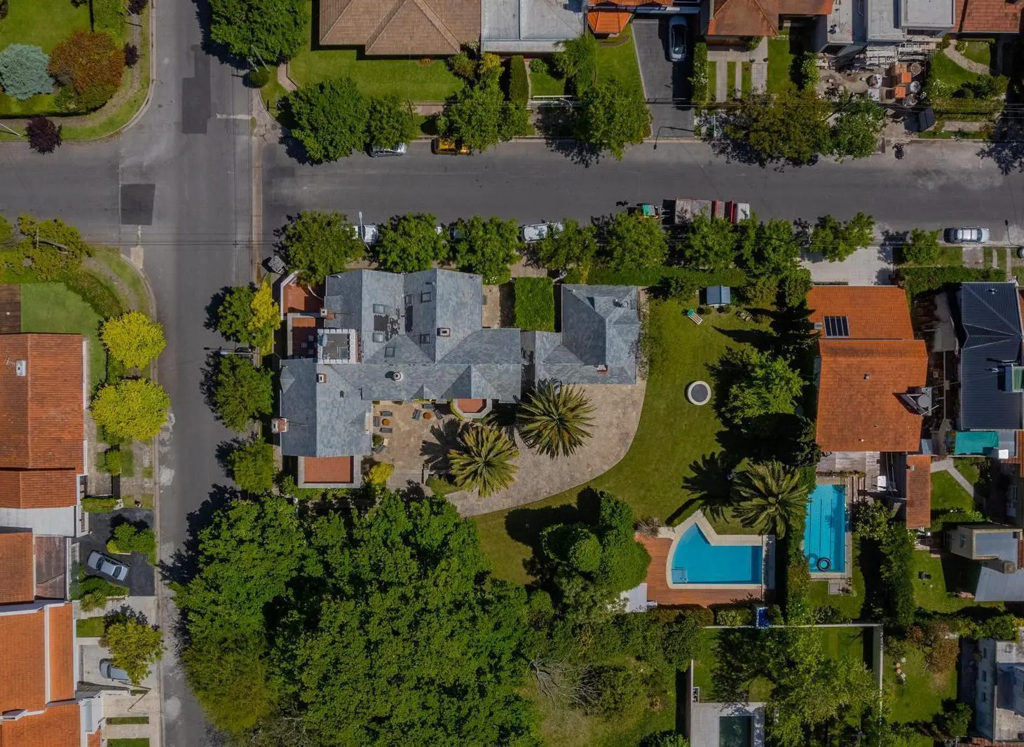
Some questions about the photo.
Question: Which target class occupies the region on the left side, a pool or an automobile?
automobile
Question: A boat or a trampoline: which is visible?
trampoline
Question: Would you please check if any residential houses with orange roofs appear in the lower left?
Yes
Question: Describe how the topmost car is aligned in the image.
vertically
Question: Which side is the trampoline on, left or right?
right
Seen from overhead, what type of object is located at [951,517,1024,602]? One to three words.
house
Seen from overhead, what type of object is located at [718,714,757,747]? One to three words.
swimming pool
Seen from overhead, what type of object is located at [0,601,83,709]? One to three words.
house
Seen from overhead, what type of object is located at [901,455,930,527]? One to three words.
shed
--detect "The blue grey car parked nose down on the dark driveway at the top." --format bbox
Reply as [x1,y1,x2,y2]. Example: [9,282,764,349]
[668,16,688,62]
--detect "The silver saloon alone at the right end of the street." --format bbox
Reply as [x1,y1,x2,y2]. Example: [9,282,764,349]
[943,226,988,246]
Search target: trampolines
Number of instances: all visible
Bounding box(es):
[687,381,711,405]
